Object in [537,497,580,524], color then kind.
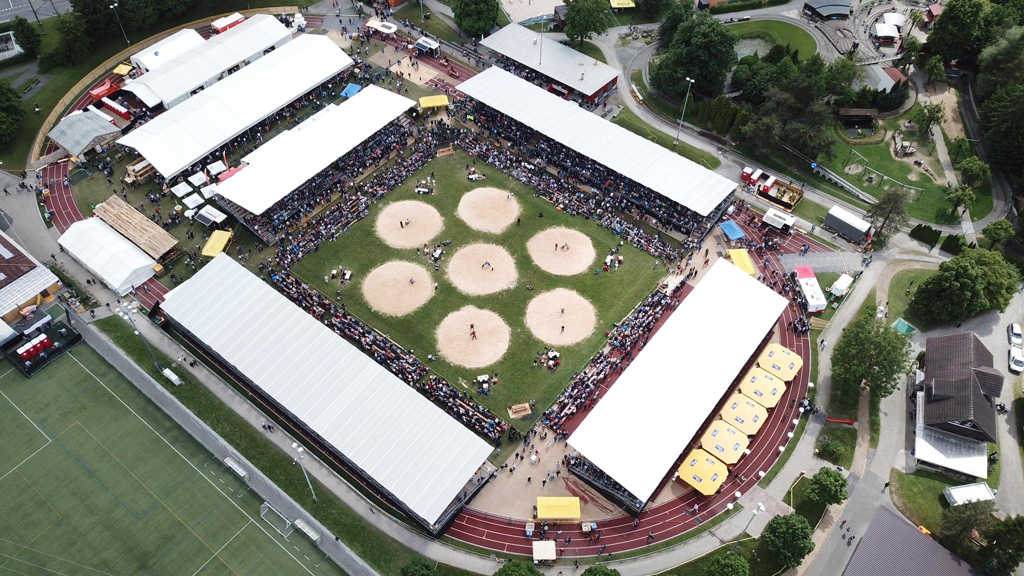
yellow tent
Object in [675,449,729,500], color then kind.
yellow umbrella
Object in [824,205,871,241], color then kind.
white trailer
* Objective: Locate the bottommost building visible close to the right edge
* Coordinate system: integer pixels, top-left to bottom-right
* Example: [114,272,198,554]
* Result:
[840,505,977,576]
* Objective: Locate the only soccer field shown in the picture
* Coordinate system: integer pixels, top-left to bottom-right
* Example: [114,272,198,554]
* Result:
[0,339,349,576]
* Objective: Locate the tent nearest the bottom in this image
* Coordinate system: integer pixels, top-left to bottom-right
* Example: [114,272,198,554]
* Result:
[533,539,555,569]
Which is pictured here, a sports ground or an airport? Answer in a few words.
sports ground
